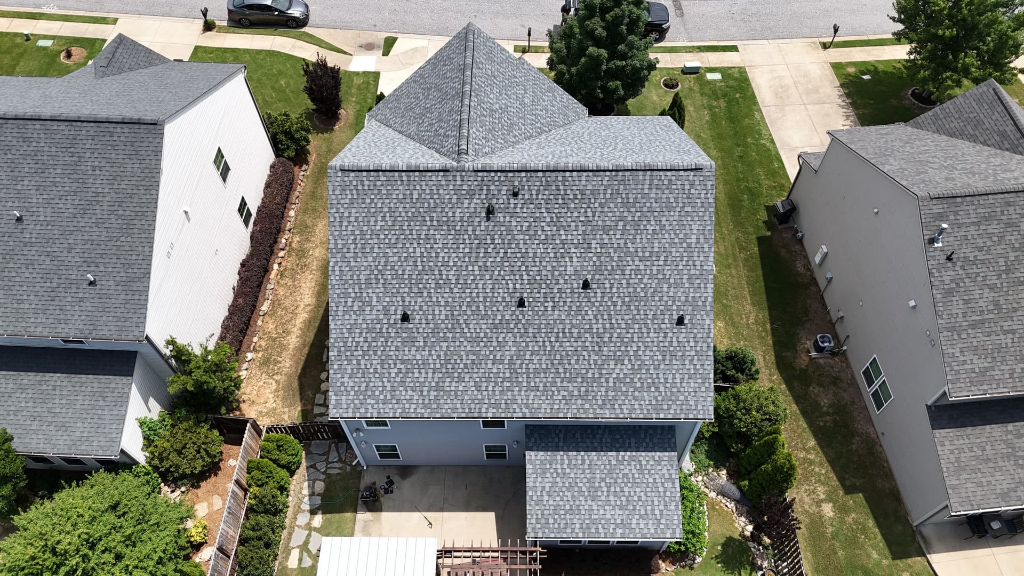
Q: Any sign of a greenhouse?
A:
No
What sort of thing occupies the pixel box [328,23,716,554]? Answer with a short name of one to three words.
house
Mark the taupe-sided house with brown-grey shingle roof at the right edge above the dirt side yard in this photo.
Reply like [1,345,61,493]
[781,79,1024,528]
